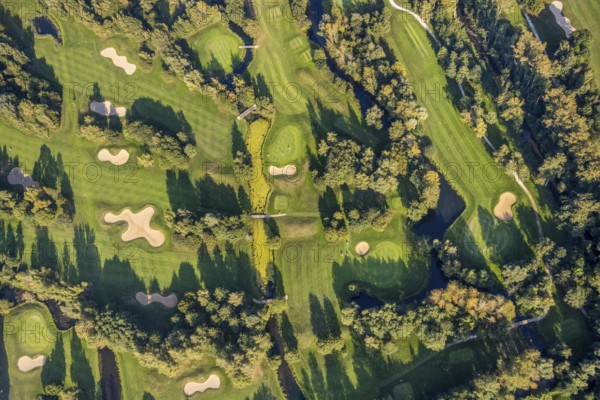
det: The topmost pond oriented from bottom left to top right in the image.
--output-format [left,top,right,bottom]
[350,169,466,309]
